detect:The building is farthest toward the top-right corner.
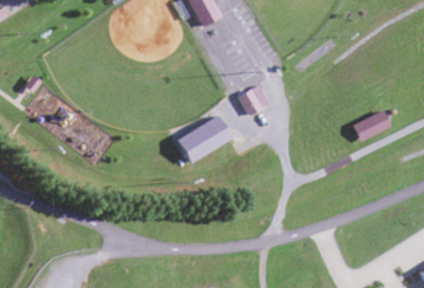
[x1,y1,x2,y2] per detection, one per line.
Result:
[352,112,392,142]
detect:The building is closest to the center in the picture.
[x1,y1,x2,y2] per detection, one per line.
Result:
[178,116,231,163]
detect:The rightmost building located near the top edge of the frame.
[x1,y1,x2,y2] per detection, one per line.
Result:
[189,0,222,26]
